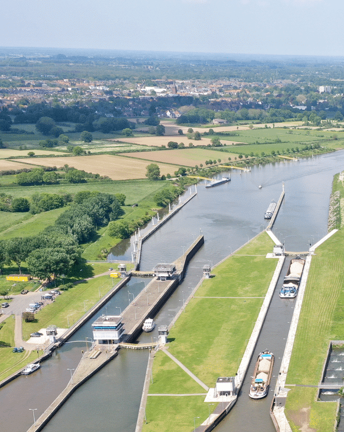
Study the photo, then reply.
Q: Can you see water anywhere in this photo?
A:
Yes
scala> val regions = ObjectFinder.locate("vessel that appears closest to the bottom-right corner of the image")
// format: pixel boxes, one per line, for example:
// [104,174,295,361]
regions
[246,341,276,397]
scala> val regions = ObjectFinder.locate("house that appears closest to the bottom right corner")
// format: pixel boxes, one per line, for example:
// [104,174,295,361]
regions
[212,376,234,396]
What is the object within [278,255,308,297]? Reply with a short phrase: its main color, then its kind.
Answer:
white ship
